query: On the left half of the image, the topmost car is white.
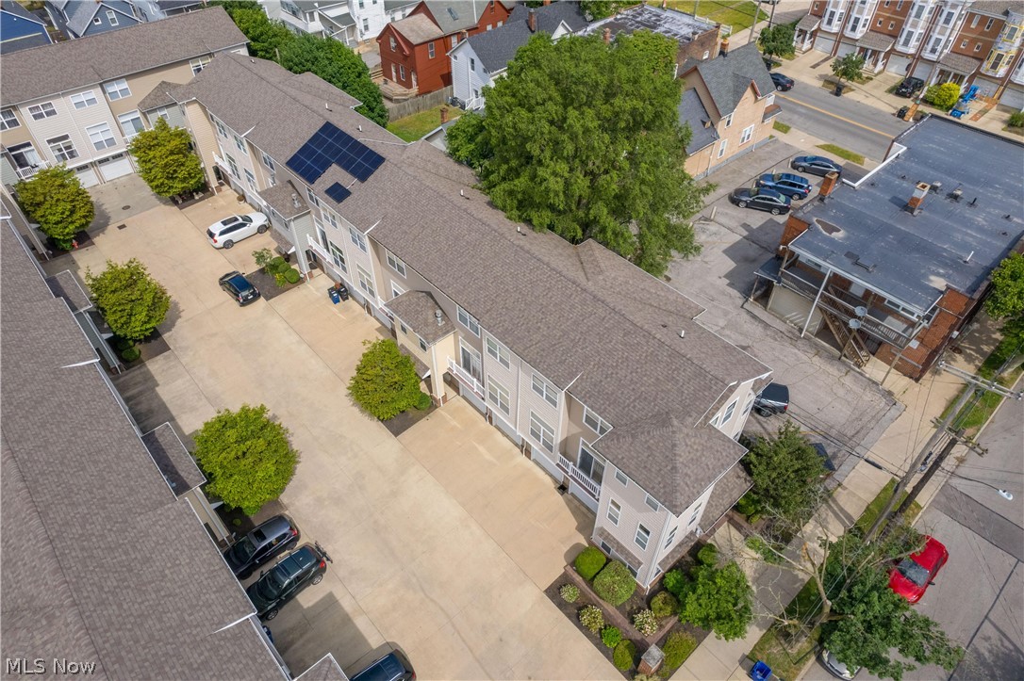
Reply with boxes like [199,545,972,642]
[203,211,272,248]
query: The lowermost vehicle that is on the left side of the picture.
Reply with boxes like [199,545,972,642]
[356,647,420,681]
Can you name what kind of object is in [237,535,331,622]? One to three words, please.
car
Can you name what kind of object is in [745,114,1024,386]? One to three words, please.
building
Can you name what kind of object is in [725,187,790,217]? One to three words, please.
car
